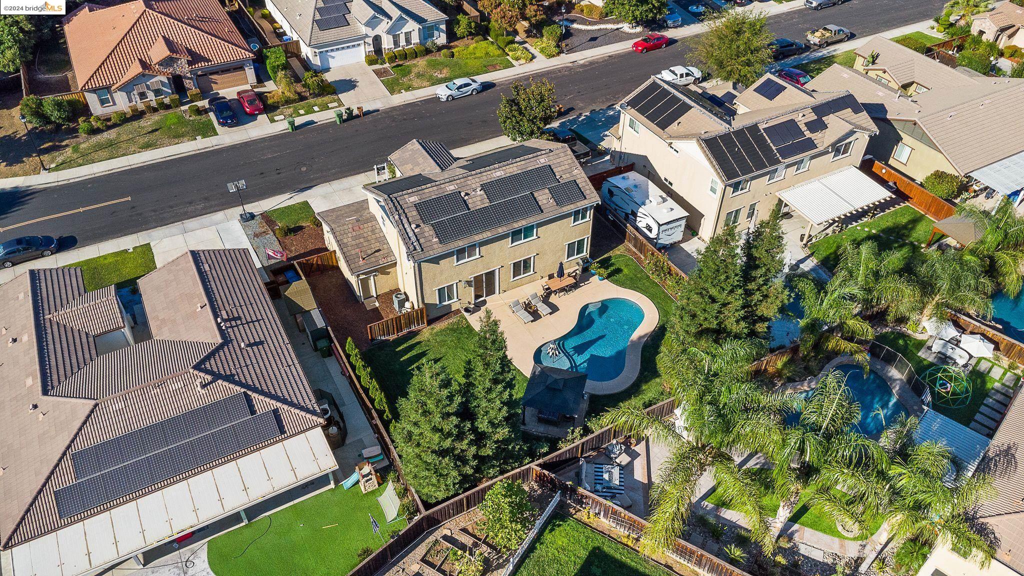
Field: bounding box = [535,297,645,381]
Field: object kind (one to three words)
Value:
swimming pool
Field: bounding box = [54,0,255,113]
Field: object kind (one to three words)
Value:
house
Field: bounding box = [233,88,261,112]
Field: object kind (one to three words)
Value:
car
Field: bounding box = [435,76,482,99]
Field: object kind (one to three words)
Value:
car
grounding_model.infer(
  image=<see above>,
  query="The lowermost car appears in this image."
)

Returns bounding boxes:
[0,232,60,265]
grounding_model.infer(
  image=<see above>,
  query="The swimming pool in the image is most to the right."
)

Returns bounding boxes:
[961,272,1024,352]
